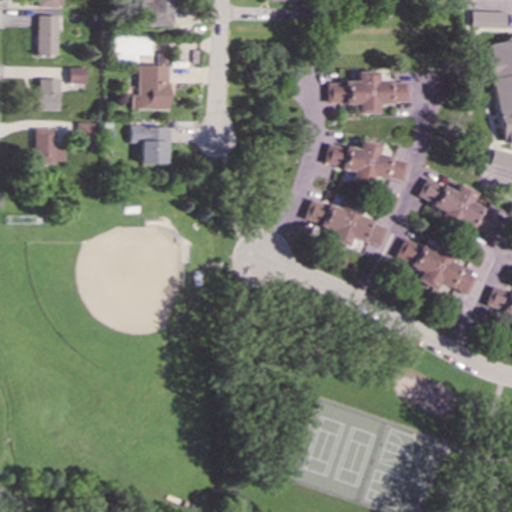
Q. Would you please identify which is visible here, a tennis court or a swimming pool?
tennis court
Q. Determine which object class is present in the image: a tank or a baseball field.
baseball field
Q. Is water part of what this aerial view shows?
No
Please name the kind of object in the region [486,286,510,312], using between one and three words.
building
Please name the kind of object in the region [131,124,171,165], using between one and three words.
house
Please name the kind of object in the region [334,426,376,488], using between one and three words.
tennis court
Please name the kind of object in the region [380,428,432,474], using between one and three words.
basketball court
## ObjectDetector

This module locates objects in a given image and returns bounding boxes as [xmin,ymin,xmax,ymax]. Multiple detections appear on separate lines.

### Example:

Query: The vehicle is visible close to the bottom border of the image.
[166,495,190,508]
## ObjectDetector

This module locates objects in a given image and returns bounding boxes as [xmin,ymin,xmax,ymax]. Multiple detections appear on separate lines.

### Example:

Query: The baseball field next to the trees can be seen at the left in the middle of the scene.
[26,216,192,374]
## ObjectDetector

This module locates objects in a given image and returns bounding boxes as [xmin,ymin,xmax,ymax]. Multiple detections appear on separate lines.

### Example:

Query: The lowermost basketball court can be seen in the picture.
[366,469,416,512]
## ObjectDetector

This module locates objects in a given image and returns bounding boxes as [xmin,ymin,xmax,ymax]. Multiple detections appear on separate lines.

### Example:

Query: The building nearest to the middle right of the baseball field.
[304,200,328,224]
